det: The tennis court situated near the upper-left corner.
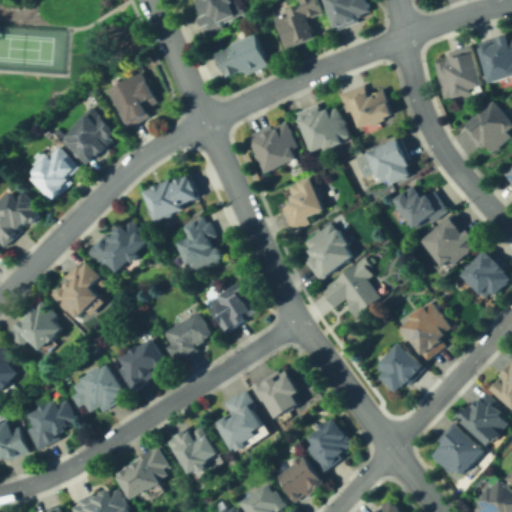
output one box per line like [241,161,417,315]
[0,28,68,75]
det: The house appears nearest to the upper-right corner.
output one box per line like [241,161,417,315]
[479,33,512,81]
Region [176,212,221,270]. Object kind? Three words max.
house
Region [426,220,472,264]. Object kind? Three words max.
house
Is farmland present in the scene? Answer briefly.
No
